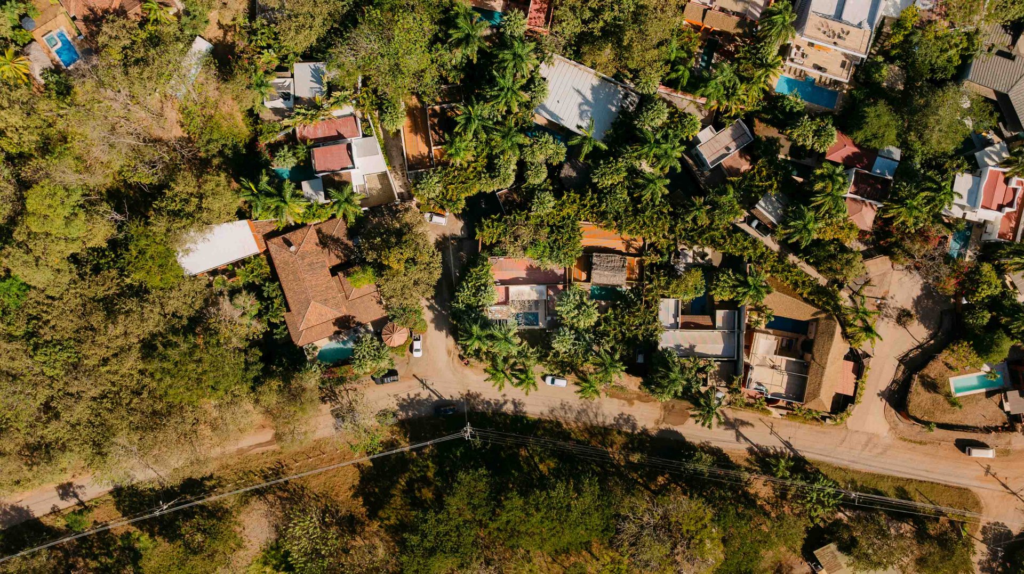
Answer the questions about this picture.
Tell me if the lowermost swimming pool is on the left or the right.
right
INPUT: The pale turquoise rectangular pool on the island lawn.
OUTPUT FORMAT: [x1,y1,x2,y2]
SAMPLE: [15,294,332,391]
[948,364,1008,398]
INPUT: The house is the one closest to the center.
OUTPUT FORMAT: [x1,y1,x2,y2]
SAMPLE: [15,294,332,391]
[489,258,568,328]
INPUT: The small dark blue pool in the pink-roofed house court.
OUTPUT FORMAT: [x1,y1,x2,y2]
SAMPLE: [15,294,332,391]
[515,311,540,327]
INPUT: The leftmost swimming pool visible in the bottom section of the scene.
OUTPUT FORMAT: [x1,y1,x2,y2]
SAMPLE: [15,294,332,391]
[315,329,361,366]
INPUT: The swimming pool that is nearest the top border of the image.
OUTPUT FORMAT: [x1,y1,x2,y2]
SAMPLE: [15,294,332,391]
[470,5,506,29]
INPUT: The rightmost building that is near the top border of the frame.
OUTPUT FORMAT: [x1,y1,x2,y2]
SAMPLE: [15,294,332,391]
[961,23,1024,137]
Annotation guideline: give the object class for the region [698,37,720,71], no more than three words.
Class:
swimming pool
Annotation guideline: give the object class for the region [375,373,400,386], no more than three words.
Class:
vehicle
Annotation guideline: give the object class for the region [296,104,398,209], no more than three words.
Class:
house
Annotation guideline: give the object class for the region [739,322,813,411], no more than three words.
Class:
building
